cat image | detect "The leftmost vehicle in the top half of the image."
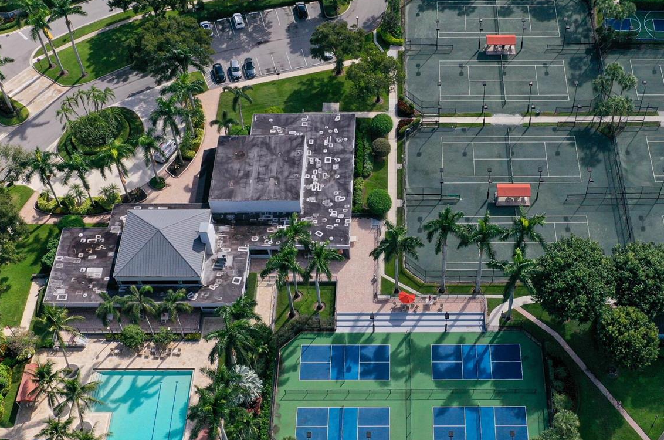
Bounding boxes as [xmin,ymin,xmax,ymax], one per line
[154,135,181,162]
